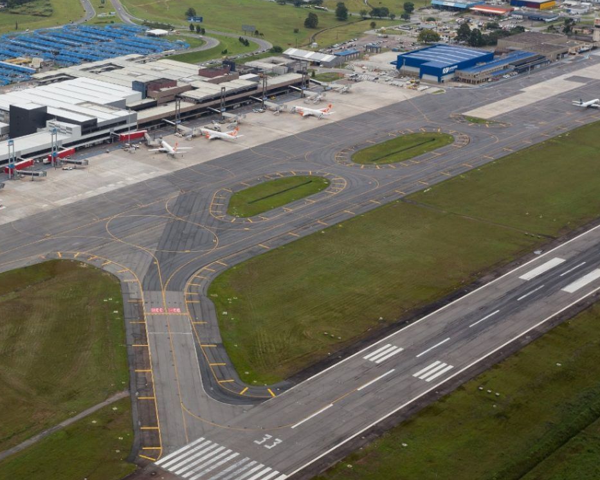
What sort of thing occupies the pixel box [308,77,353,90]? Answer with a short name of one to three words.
jet bridge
